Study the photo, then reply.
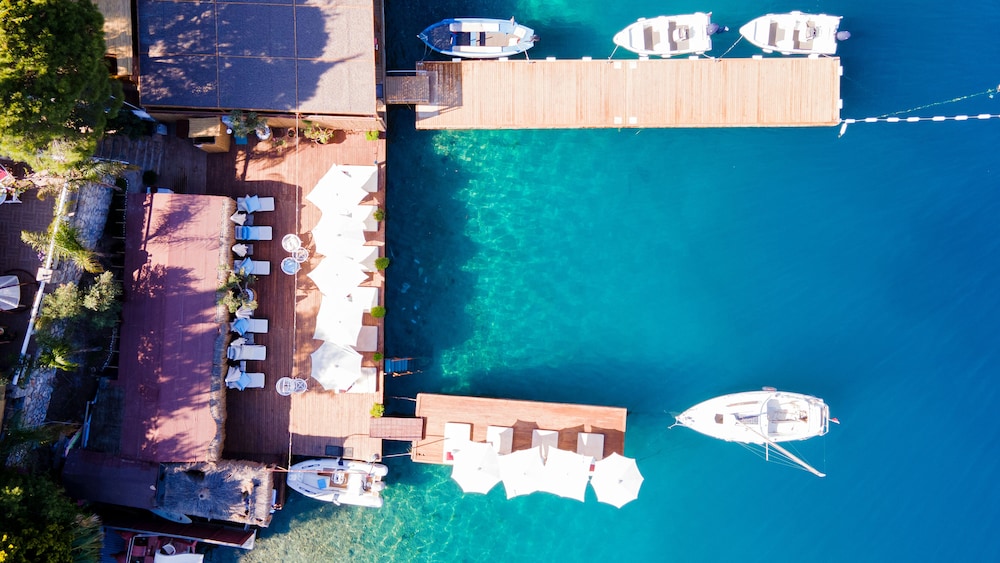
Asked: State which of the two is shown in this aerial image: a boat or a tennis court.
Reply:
boat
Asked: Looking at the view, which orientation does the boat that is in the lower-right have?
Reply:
from side to side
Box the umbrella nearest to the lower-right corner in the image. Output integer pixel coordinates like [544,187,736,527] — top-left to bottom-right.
[589,451,645,506]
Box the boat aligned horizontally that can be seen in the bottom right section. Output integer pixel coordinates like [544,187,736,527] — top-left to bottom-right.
[669,387,846,473]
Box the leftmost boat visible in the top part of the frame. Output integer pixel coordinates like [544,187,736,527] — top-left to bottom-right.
[417,17,540,58]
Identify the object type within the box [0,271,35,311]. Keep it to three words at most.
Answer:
umbrella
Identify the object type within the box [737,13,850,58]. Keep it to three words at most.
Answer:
boat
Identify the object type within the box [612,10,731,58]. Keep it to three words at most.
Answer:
boat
